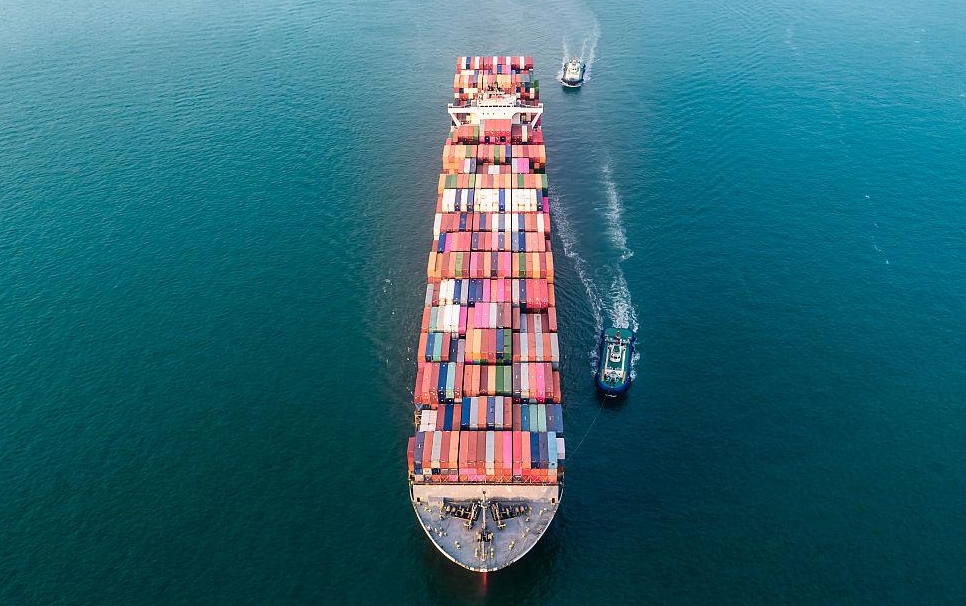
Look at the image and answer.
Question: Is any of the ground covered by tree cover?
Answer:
No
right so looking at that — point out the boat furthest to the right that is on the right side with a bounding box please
[596,325,634,391]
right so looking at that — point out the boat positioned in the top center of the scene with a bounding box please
[561,51,584,86]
